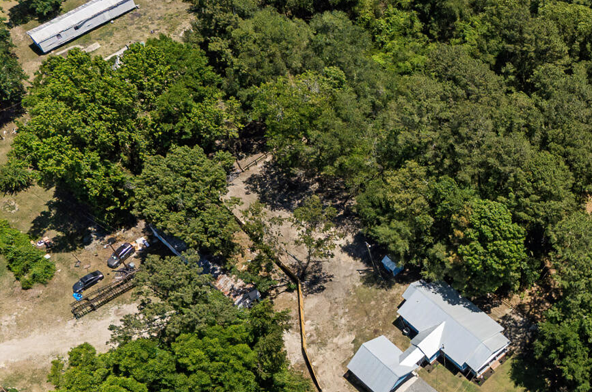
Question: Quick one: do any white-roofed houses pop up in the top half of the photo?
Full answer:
Yes, I can see a white-roofed house in the top half of the photo.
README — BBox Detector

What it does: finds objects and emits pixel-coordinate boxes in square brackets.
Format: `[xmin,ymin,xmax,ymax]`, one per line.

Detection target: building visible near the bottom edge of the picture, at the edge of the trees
[346,277,511,392]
